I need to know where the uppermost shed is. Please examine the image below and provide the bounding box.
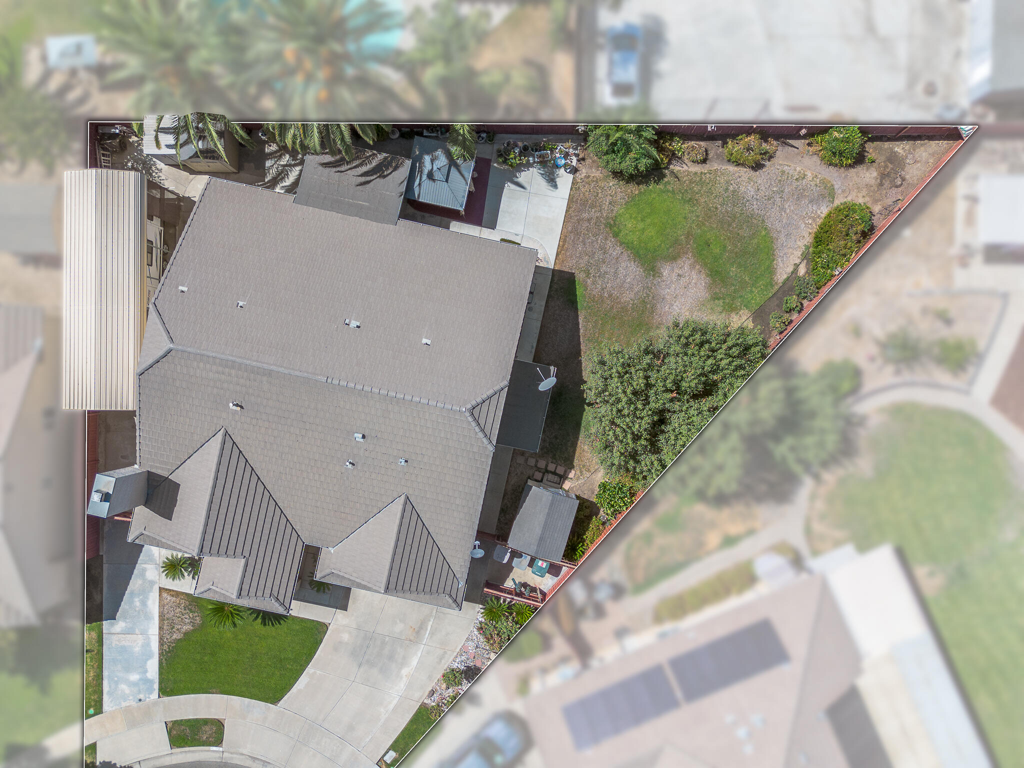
[953,0,1024,113]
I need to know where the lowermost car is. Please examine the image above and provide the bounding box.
[436,708,528,768]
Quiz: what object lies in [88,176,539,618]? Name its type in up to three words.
house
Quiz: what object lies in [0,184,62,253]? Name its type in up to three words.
shed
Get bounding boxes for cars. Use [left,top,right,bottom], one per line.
[602,24,645,111]
[436,708,528,768]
